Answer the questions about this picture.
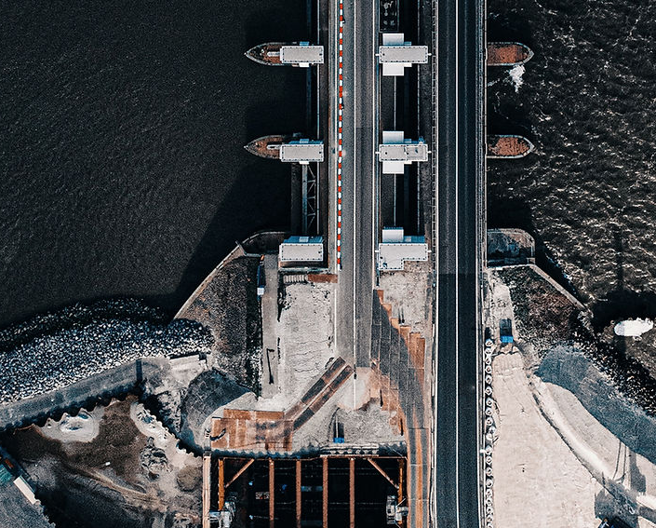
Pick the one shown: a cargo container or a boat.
cargo container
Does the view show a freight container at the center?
No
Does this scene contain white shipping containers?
Yes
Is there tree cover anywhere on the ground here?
No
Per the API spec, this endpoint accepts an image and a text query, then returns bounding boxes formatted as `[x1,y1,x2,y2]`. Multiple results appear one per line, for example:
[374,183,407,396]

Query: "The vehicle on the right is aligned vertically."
[500,319,512,344]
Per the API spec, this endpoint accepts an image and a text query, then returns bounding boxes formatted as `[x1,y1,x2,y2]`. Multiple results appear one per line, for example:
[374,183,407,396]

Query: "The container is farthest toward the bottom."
[10,472,42,505]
